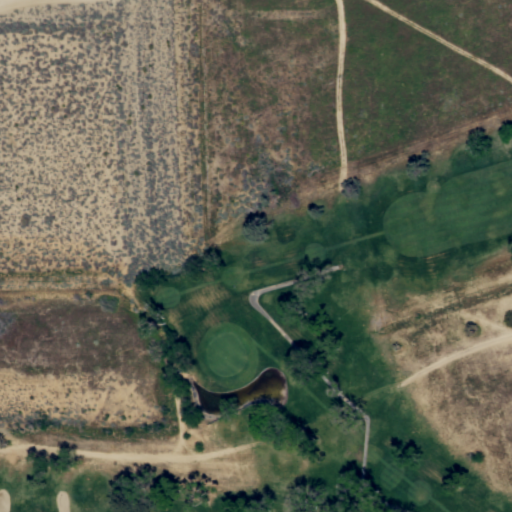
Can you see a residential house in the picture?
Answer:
No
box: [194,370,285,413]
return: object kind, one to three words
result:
pond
